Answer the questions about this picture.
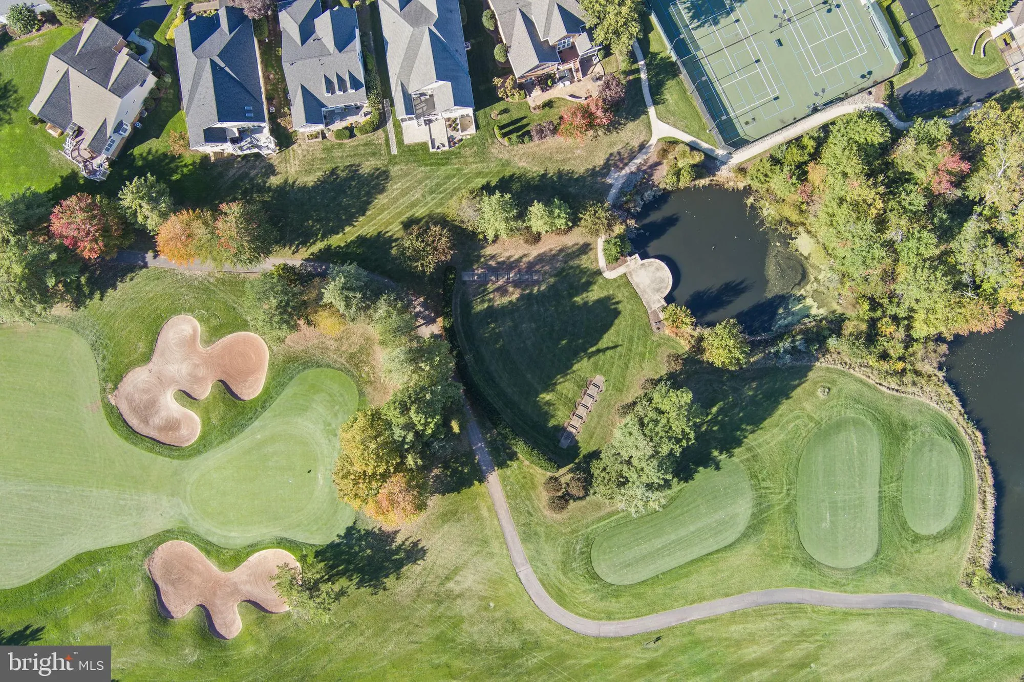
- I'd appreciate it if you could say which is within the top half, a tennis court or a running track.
tennis court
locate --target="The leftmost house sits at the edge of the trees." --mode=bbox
[28,17,159,184]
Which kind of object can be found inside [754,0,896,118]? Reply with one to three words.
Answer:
tennis court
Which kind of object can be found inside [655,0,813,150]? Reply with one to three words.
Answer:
tennis court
